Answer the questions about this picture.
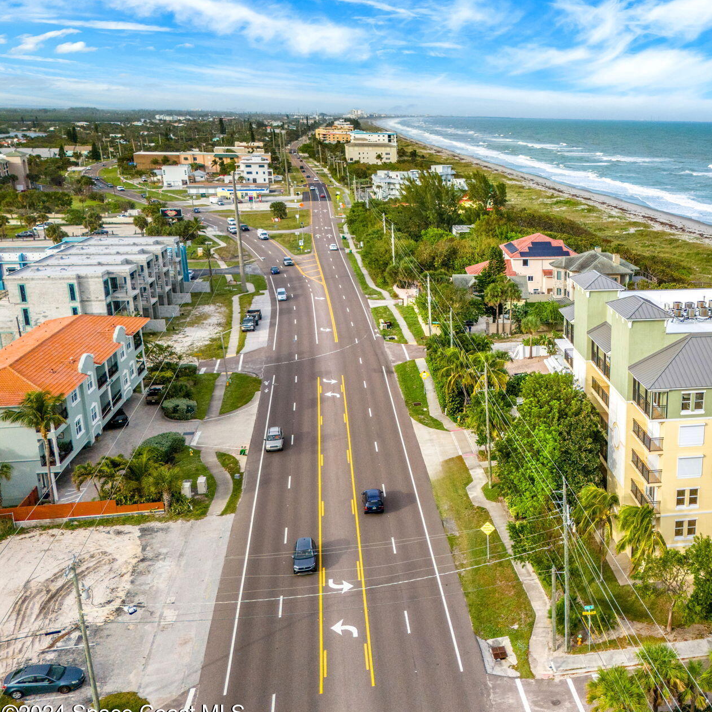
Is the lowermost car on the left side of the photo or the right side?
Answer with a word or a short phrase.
left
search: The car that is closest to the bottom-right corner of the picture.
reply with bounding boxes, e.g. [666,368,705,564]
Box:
[361,485,384,509]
